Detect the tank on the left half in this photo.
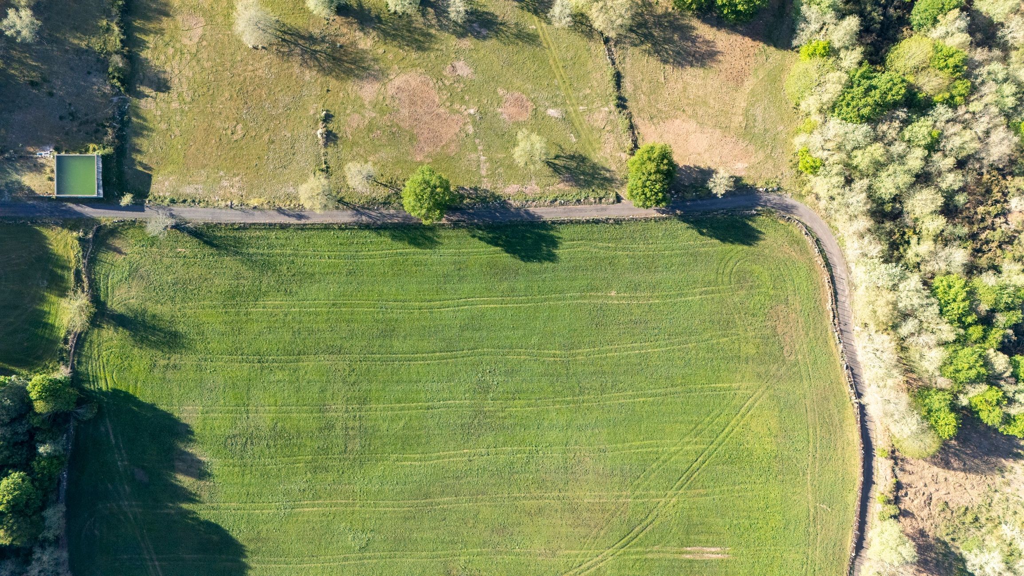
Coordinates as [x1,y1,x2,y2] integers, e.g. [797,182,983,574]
[54,154,105,199]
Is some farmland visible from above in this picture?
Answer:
Yes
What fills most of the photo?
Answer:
grass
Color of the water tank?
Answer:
green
